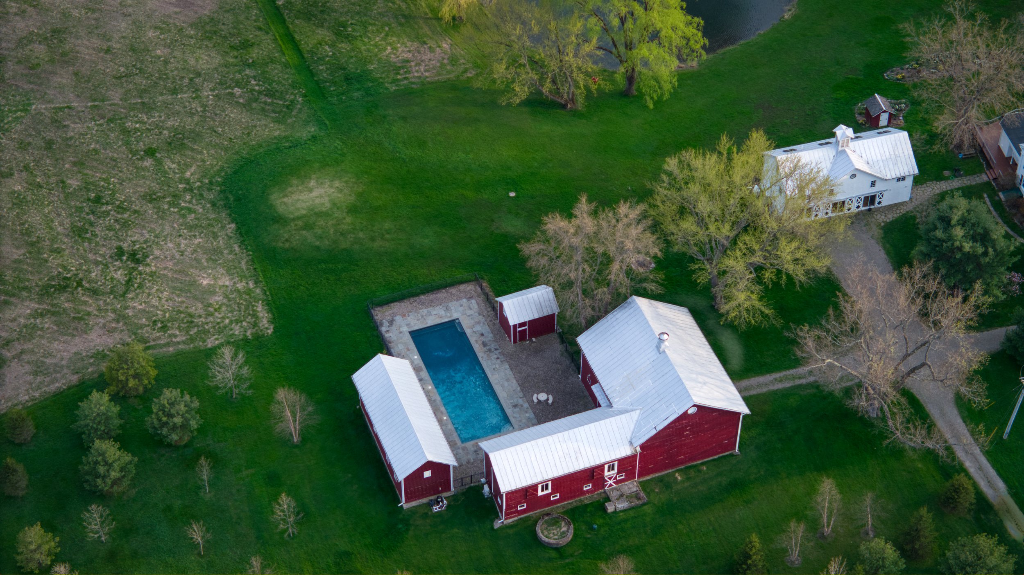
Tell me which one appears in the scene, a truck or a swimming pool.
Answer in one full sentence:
The one in the frame is a swimming pool.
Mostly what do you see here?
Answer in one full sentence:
The scene is dominated by grass.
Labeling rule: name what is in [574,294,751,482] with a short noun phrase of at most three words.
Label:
barn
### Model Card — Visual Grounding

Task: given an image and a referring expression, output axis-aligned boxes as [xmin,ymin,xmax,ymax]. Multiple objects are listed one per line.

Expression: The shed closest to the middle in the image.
[496,286,560,346]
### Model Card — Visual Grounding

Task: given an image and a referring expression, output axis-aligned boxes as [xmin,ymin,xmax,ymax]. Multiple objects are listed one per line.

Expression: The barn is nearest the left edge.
[351,353,459,514]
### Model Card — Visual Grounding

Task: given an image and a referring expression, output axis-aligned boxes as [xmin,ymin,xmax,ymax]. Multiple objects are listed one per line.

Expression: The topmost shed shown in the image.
[865,90,896,126]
